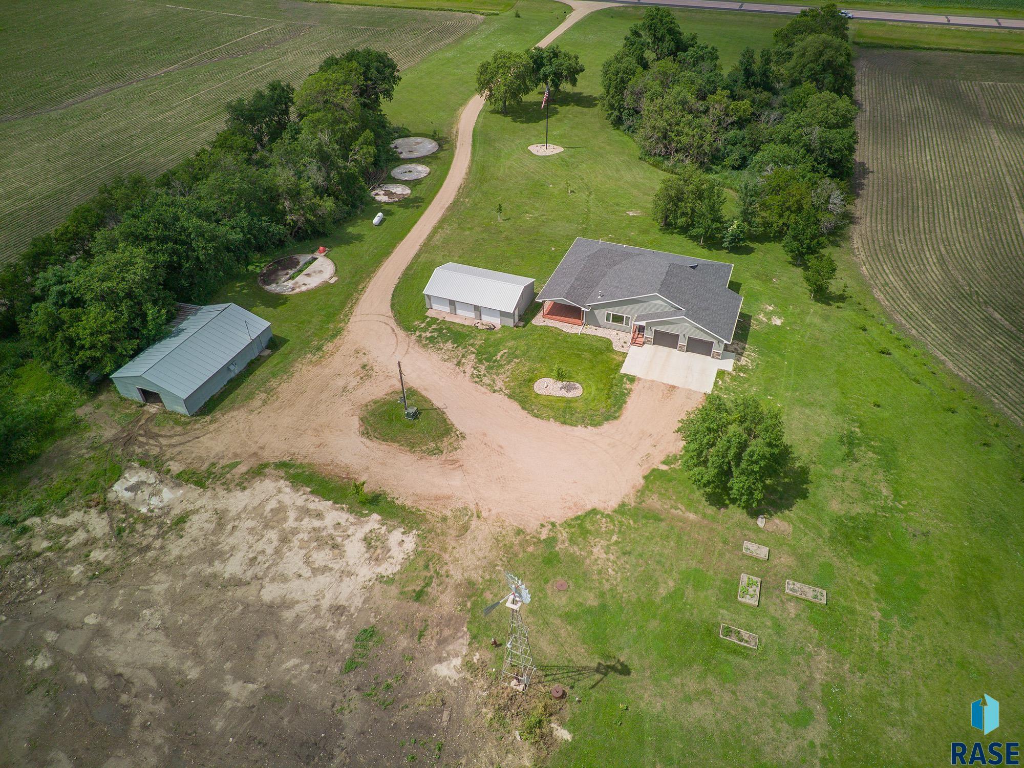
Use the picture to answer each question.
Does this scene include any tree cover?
Yes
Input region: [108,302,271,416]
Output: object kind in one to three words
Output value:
barn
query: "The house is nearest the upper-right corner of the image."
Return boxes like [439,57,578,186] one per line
[535,237,744,360]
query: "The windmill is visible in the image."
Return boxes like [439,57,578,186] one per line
[481,572,537,698]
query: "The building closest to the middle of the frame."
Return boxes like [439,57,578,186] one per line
[422,262,537,326]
